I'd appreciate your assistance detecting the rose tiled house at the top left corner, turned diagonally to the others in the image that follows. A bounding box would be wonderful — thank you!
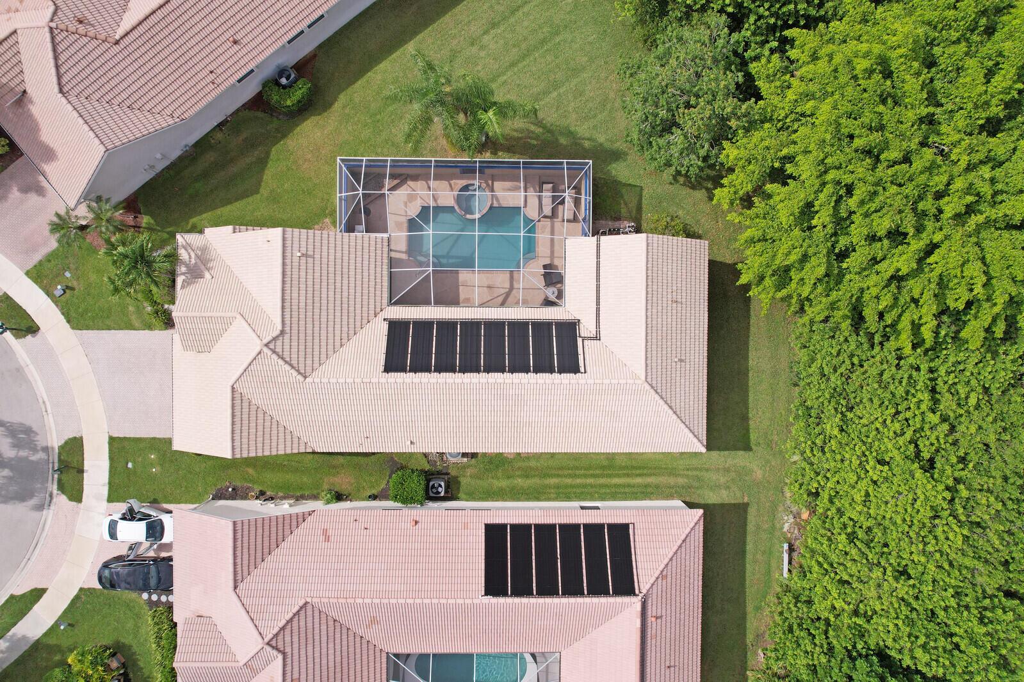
[0,0,366,209]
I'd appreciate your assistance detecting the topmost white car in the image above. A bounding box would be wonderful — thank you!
[102,497,173,554]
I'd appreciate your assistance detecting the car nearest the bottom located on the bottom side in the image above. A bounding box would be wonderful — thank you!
[96,550,171,590]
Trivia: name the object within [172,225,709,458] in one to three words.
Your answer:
house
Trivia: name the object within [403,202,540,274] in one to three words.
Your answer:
swimming pool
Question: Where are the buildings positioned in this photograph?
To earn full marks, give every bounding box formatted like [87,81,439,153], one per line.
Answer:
[170,502,706,682]
[0,0,366,209]
[172,225,709,458]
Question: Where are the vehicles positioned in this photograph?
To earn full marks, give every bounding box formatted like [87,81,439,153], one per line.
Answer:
[96,550,171,590]
[102,497,173,554]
